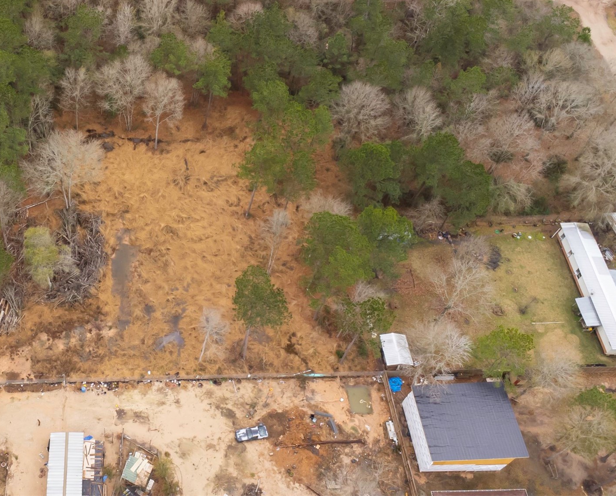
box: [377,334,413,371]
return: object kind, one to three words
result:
shed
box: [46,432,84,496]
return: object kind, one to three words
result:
shed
